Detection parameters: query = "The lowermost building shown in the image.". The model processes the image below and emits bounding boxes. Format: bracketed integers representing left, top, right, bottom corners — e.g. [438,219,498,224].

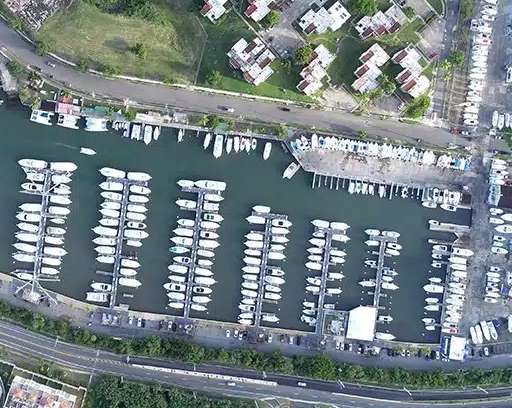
[6,375,78,408]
